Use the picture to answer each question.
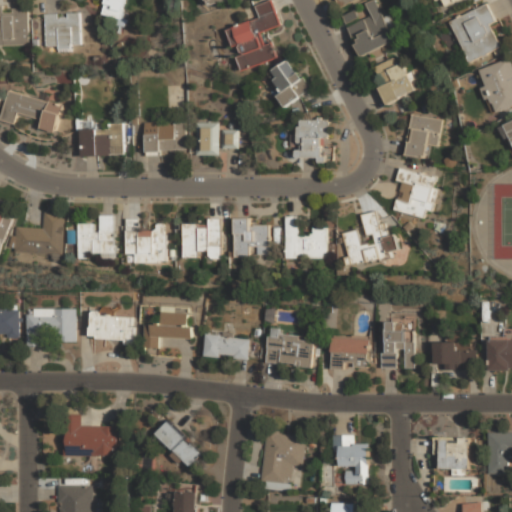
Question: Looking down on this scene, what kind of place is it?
residential area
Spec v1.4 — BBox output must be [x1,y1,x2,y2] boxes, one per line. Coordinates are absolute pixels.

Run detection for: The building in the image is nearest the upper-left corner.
[0,12,30,46]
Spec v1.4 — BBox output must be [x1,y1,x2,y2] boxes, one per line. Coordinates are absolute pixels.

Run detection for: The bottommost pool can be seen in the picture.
[444,477,479,492]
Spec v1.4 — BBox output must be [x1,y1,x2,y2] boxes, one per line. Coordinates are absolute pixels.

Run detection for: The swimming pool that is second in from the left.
[355,311,370,336]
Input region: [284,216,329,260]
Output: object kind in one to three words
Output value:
house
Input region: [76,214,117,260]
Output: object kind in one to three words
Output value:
house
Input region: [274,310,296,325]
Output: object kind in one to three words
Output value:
swimming pool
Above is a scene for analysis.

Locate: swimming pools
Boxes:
[274,310,296,325]
[444,477,479,492]
[355,311,370,336]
